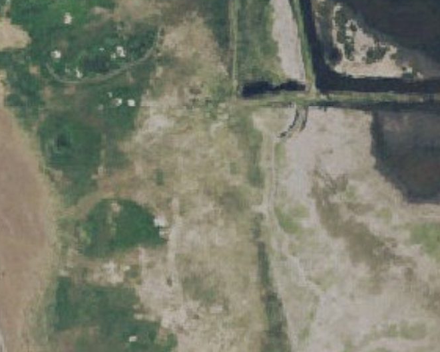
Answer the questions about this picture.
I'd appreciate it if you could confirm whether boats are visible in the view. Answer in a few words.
No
